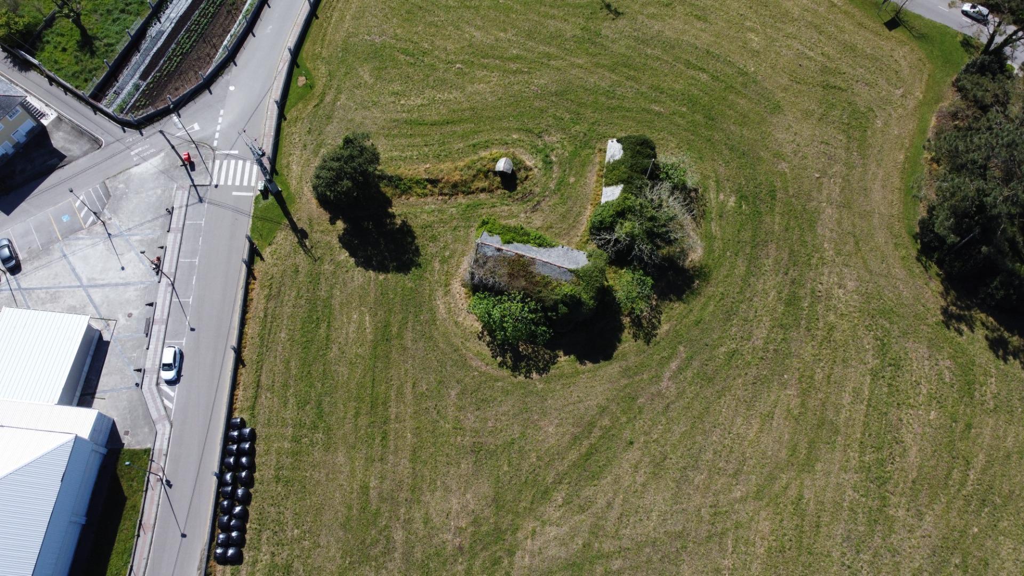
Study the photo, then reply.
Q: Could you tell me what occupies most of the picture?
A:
grass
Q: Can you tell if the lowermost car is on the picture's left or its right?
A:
left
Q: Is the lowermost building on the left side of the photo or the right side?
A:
left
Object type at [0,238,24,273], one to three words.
car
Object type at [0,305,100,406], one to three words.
shed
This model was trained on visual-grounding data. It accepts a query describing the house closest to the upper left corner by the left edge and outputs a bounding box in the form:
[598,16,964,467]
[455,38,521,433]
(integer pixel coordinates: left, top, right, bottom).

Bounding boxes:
[0,82,47,173]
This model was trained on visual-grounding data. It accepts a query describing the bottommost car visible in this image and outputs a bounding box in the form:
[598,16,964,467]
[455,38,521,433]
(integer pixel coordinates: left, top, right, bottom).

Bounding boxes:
[160,347,185,384]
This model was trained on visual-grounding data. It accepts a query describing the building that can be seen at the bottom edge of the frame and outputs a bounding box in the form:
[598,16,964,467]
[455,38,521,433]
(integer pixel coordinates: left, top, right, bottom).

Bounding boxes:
[0,425,108,576]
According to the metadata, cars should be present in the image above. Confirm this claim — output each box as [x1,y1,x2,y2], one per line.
[960,4,995,27]
[0,238,24,273]
[160,347,185,384]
